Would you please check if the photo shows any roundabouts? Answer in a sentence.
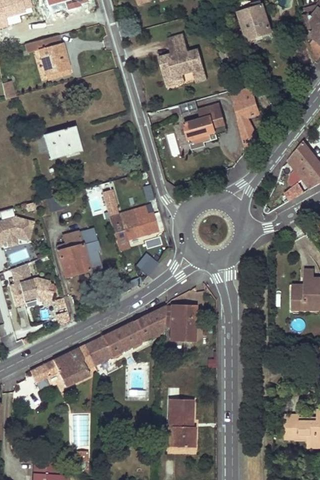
Yes, a roundabout can be made out from above.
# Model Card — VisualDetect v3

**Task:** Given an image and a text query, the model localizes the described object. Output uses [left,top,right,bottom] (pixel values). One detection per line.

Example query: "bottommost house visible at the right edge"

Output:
[284,412,320,450]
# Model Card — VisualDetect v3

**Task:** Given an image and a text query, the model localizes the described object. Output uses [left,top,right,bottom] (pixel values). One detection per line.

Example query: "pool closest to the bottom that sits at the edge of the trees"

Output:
[72,415,89,447]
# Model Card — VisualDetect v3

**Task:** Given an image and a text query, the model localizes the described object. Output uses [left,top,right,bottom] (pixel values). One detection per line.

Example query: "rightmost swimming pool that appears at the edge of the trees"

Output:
[290,318,306,334]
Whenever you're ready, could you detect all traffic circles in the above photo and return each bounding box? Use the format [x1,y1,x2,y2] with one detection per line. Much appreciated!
[174,192,254,277]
